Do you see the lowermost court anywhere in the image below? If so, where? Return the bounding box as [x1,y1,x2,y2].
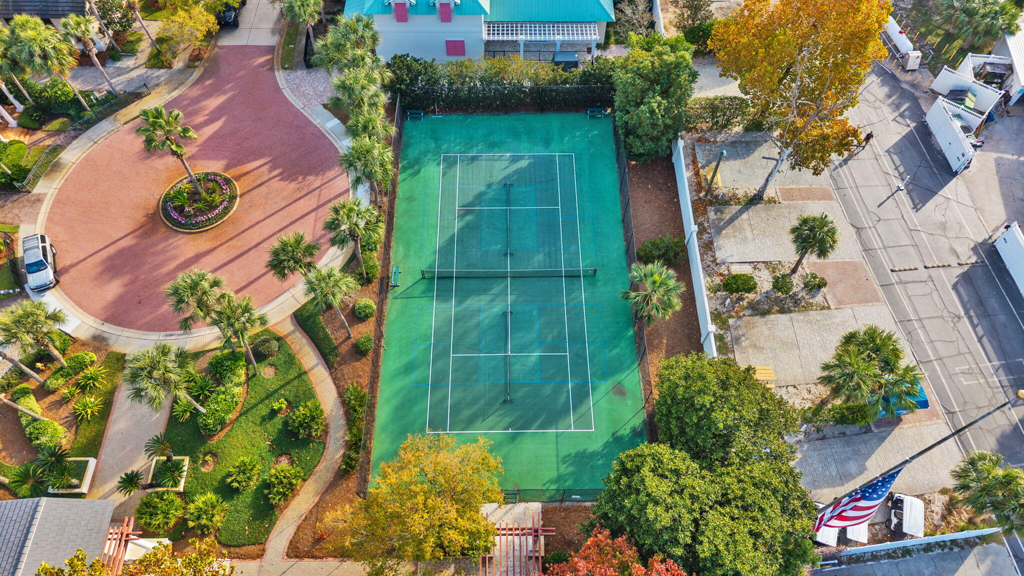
[370,113,650,501]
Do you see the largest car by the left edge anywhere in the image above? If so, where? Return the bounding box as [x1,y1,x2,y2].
[18,238,60,299]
